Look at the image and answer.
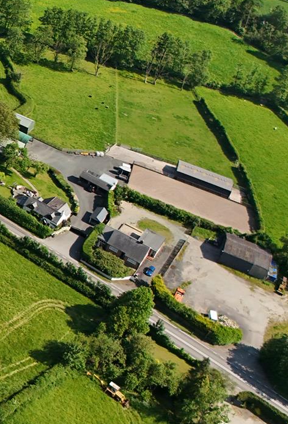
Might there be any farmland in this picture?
Yes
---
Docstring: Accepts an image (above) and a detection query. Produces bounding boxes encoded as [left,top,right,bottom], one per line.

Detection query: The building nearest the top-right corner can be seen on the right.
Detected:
[174,164,235,201]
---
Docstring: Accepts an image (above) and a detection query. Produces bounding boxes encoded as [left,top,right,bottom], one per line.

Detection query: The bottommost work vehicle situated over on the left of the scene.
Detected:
[93,371,132,407]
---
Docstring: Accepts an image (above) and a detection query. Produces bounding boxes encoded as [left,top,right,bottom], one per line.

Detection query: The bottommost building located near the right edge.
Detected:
[220,236,278,286]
